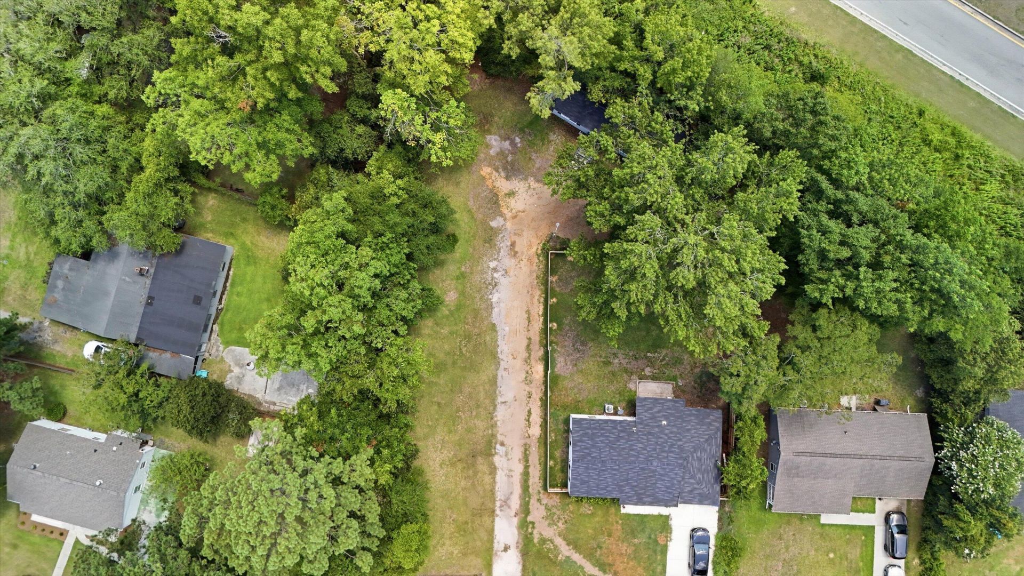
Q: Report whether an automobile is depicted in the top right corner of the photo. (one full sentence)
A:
No, no automobile is visible in the top right corner of the photo.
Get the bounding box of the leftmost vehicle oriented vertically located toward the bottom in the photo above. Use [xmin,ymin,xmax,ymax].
[691,527,715,576]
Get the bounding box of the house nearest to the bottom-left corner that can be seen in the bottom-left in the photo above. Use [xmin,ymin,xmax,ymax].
[6,418,157,531]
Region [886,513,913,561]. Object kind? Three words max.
car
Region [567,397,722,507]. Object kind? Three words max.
house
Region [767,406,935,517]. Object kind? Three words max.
house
